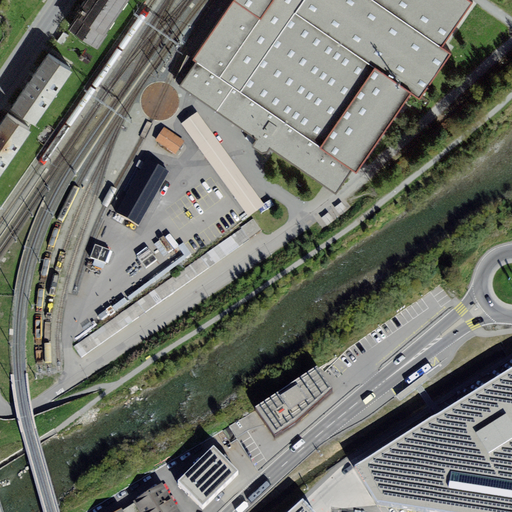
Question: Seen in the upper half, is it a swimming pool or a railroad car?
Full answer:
You can see a railroad car in the upper half.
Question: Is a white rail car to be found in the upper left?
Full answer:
Yes, there is a white rail car in the upper left.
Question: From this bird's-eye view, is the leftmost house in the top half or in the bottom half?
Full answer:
It is in the top half that the leftmost house appears.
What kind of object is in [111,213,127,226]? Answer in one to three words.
vehicle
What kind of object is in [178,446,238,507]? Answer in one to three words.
building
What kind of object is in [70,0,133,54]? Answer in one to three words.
house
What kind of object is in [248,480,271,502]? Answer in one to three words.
truck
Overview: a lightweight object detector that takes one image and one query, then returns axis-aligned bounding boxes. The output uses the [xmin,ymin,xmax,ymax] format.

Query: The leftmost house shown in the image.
[0,114,30,181]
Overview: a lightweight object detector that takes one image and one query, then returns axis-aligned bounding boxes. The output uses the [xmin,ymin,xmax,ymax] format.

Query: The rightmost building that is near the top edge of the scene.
[180,0,472,196]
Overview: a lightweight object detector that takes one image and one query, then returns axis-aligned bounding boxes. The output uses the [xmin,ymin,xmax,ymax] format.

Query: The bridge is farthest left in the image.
[11,370,60,512]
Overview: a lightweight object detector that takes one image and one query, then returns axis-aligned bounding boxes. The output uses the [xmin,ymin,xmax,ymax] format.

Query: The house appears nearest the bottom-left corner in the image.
[117,480,182,512]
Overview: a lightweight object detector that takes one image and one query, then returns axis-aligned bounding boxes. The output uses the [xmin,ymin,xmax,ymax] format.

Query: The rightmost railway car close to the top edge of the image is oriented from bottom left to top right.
[118,4,152,48]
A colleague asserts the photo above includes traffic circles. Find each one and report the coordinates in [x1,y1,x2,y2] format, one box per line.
[472,242,512,326]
